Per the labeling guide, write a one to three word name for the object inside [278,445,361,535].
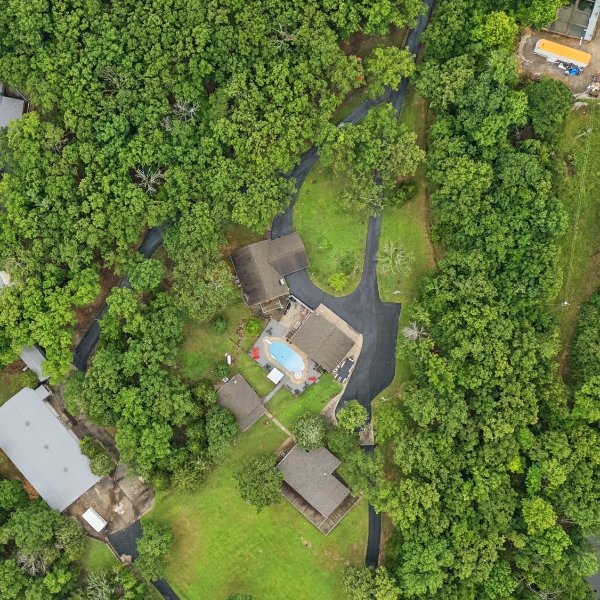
house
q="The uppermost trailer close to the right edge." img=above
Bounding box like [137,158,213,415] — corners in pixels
[534,38,591,66]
